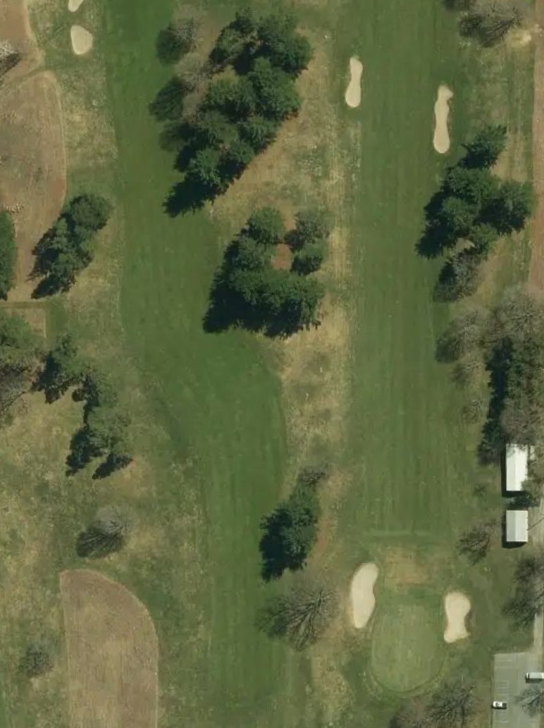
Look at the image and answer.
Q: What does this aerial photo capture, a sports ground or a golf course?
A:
golf course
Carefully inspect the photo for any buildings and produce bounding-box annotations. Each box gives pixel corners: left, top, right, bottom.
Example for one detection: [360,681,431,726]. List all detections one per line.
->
[507,443,529,490]
[507,510,529,542]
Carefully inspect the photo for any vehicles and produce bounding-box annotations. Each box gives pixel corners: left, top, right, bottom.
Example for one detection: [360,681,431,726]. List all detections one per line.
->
[526,673,544,680]
[492,702,508,707]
